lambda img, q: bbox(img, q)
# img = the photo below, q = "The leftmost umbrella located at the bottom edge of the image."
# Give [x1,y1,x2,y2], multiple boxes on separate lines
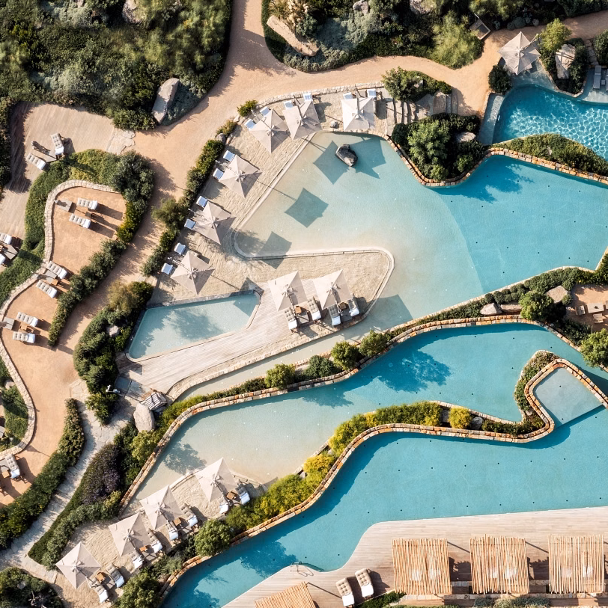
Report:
[57,541,113,587]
